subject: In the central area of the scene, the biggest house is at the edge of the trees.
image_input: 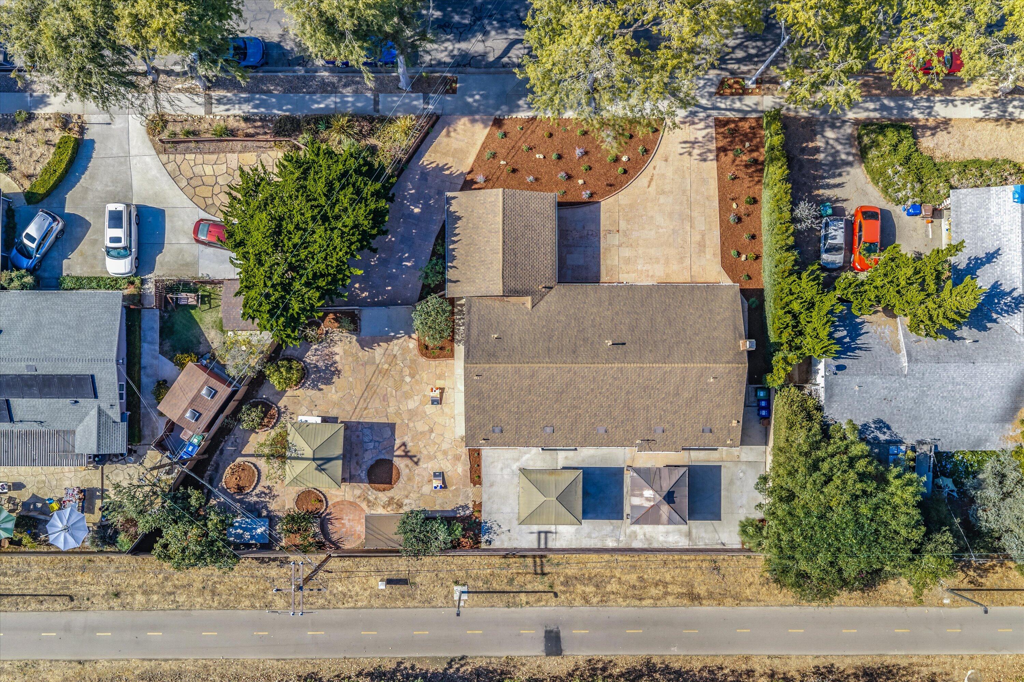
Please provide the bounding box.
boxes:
[444,188,760,455]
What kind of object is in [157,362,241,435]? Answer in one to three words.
shed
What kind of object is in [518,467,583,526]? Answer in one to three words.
gazebo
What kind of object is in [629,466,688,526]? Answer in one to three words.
gazebo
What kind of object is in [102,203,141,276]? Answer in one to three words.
car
